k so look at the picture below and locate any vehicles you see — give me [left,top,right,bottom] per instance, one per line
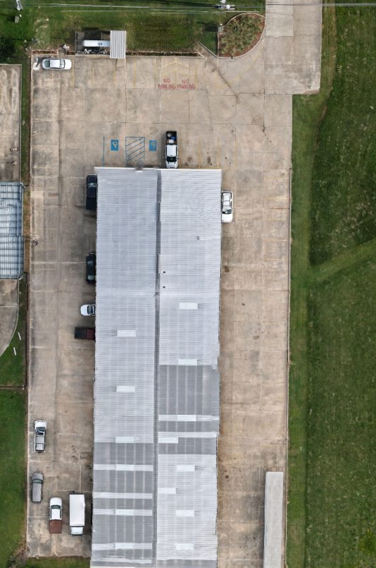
[83,253,95,285]
[81,302,95,317]
[30,472,45,503]
[73,327,95,339]
[163,130,180,169]
[68,492,85,536]
[83,175,95,212]
[40,56,72,71]
[47,497,63,534]
[221,192,234,223]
